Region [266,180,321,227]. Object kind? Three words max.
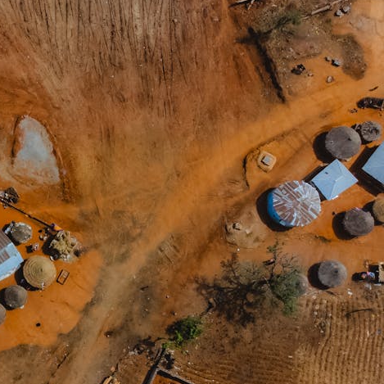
house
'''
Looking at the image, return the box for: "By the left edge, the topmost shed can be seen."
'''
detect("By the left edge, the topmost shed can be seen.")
[8,218,34,245]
